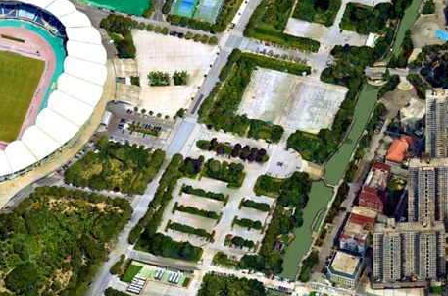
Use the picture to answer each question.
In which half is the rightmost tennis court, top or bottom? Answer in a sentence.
The rightmost tennis court sits in the top half of the picture.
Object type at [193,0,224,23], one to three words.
tennis court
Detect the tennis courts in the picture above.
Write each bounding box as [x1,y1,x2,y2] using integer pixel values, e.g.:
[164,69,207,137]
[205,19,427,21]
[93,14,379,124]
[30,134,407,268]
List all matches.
[170,0,199,19]
[193,0,224,23]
